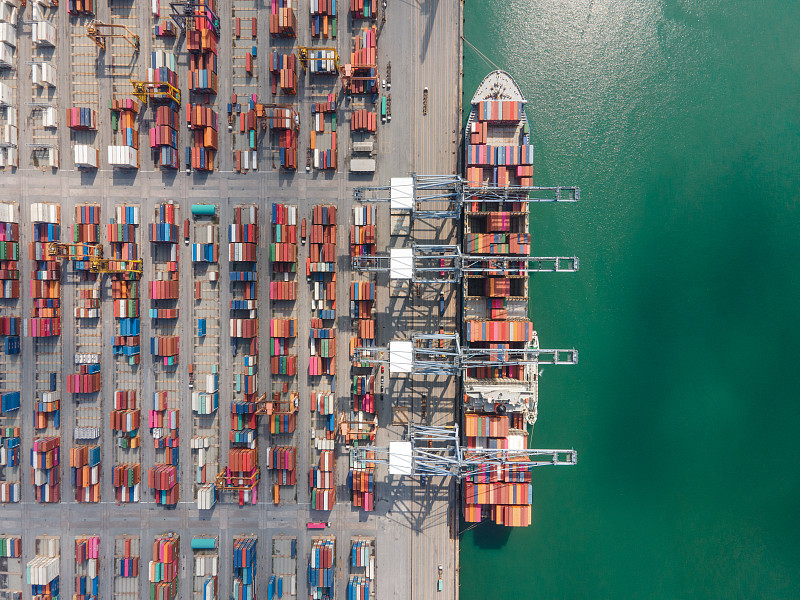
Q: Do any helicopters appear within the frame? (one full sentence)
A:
No, the frame has no helicopter in it.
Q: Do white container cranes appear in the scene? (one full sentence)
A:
Yes, I can see a white container crane in this picture.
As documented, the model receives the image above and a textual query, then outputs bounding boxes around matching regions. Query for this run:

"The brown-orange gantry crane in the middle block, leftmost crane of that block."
[41,242,102,262]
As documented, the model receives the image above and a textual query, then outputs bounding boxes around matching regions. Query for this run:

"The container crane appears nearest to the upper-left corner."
[82,22,141,52]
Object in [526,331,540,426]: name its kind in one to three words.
ship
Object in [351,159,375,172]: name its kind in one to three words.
building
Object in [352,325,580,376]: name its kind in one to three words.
container crane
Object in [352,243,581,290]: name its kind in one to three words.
container crane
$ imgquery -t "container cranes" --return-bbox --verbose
[255,393,301,416]
[294,46,341,76]
[125,77,182,105]
[82,22,141,52]
[338,412,380,435]
[338,64,381,92]
[255,104,302,130]
[209,465,262,491]
[84,257,142,276]
[353,172,582,228]
[352,325,580,376]
[170,2,222,34]
[352,412,580,475]
[41,242,102,262]
[352,243,581,290]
